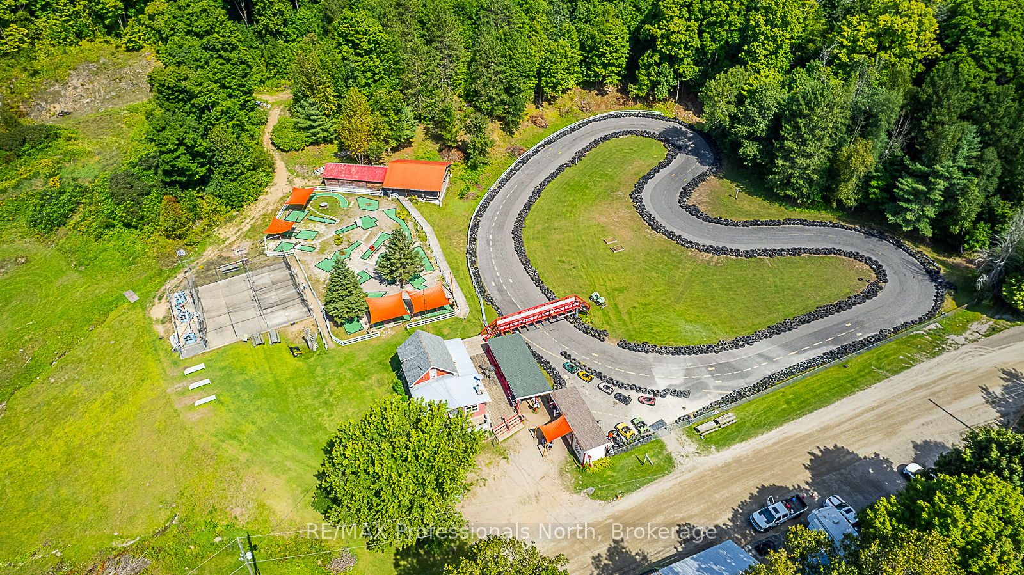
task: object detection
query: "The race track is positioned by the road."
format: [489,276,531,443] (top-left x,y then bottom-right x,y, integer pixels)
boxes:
[473,115,939,453]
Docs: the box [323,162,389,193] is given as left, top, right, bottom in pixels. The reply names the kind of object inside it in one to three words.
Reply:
shed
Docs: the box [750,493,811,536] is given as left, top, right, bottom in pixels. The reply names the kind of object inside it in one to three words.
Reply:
truck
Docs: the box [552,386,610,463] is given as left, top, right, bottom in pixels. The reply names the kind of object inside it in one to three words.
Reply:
building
